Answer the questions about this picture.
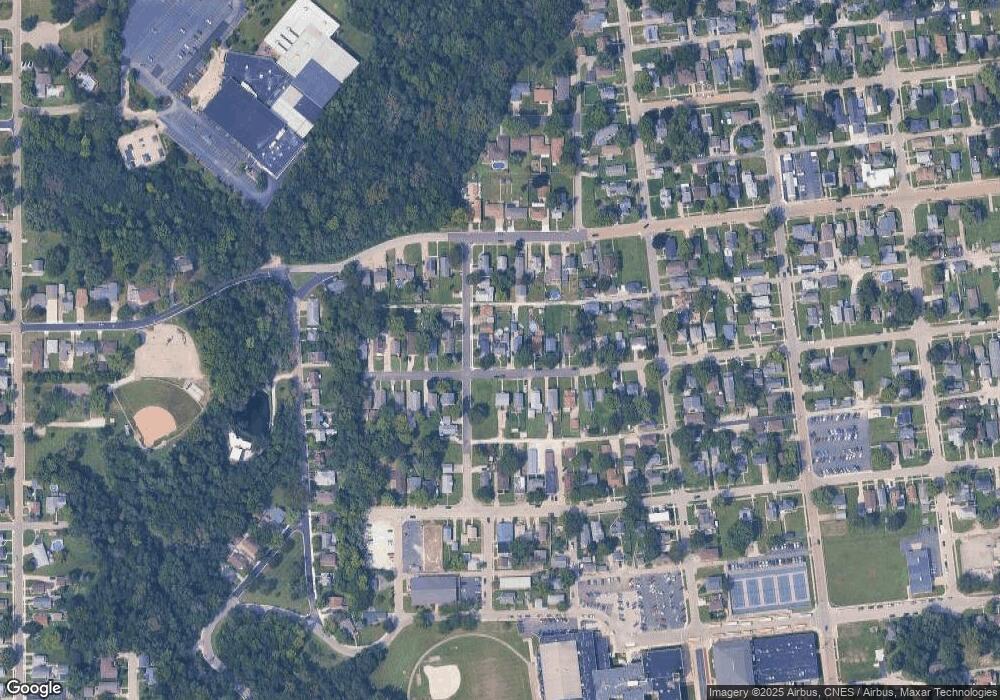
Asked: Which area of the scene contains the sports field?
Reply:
bottom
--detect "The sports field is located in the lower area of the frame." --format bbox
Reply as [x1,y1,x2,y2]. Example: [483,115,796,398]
[411,638,532,700]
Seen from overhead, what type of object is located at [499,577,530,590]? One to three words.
building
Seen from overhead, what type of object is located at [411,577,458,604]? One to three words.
building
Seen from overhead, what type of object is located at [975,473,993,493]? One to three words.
house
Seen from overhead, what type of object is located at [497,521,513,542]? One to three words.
house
